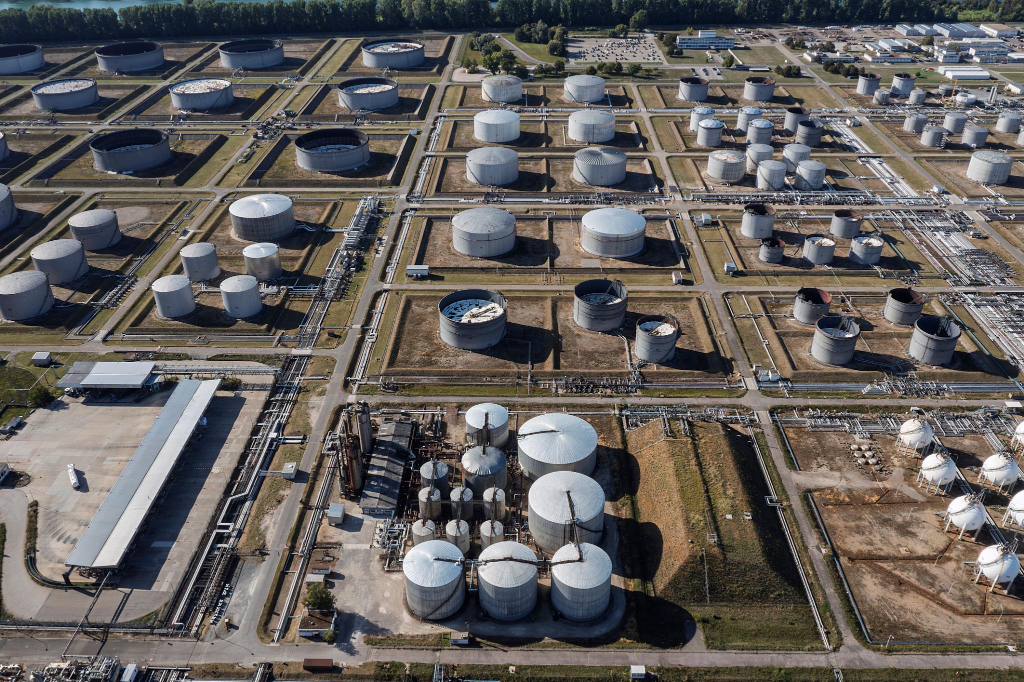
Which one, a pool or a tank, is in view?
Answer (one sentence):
The image shows a tank.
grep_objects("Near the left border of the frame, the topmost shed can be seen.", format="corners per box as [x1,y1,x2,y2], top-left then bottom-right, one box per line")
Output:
[29,348,59,366]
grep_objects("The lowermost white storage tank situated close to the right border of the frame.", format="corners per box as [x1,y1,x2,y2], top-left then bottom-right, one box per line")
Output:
[963,530,1019,594]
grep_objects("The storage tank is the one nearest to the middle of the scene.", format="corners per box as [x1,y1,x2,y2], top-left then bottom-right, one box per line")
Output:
[437,290,509,350]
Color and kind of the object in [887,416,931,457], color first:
white storage tank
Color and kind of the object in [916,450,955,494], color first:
white storage tank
